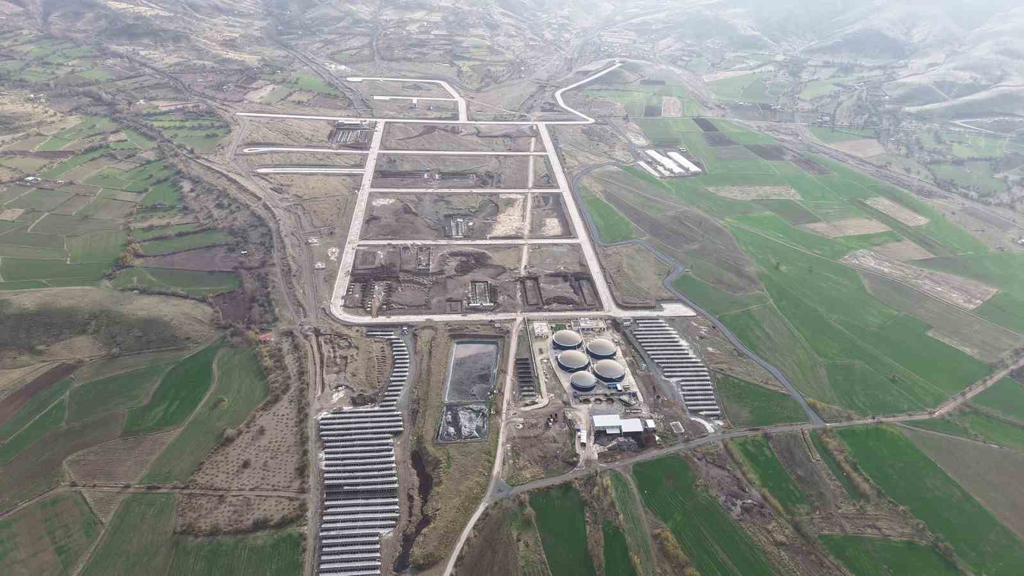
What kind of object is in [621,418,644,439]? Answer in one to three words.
building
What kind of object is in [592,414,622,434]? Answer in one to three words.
building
